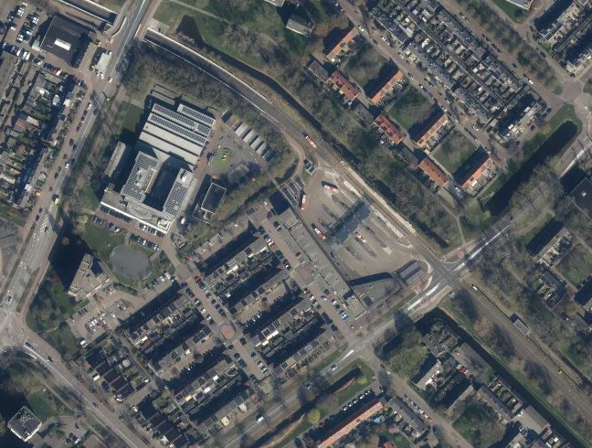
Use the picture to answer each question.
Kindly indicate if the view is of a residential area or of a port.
residential area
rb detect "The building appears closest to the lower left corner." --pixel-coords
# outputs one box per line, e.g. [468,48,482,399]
[8,406,43,442]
